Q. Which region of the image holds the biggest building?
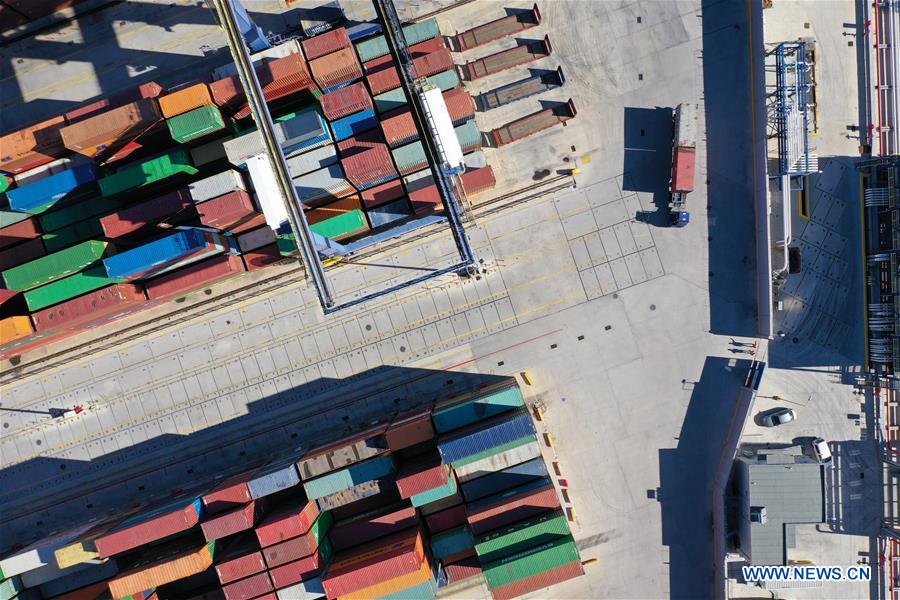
bottom right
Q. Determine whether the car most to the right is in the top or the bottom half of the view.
bottom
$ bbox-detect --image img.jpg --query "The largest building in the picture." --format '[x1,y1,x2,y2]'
[731,444,823,566]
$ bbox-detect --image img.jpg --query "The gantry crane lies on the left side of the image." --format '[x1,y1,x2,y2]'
[210,0,485,314]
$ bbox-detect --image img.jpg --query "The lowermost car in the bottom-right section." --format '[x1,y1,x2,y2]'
[808,435,834,466]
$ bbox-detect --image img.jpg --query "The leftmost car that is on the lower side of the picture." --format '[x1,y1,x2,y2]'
[764,407,797,425]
